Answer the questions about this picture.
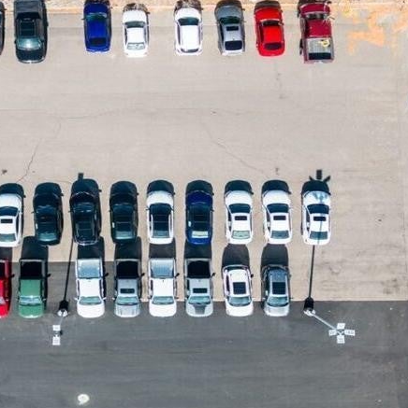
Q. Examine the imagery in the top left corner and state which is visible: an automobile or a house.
automobile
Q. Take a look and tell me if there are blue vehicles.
Yes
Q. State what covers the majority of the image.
paved ground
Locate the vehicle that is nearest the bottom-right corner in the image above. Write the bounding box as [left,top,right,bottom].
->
[261,265,294,318]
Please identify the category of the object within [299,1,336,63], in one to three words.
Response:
truck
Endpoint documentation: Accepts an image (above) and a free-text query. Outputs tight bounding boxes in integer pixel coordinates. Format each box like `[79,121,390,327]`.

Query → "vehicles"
[254,4,287,57]
[262,191,295,245]
[174,6,205,55]
[112,256,144,319]
[184,256,216,319]
[184,190,215,244]
[299,1,336,63]
[0,256,11,319]
[109,191,140,245]
[300,188,334,244]
[223,265,255,318]
[215,2,247,55]
[14,256,48,319]
[32,191,63,245]
[70,190,102,244]
[224,191,256,245]
[261,265,294,318]
[121,9,151,55]
[0,191,24,245]
[13,0,48,61]
[147,256,180,319]
[82,2,113,53]
[74,256,108,319]
[145,190,177,244]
